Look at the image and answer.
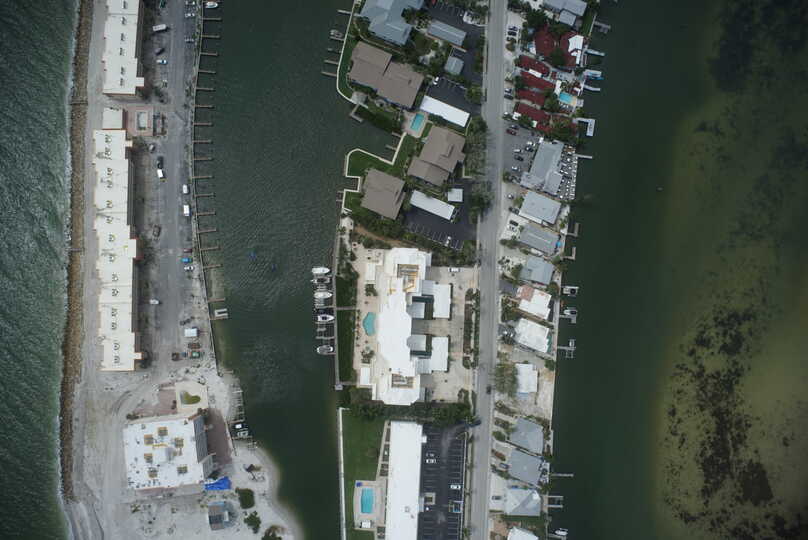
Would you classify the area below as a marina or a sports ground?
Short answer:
marina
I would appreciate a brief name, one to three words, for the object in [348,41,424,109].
house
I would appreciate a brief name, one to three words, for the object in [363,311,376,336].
swimming pool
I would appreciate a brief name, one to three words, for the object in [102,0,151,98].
building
